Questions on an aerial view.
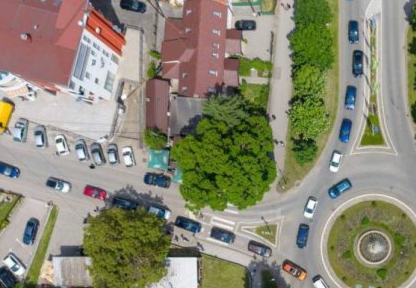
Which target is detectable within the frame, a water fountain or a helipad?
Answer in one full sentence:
The one in the frame is a water fountain.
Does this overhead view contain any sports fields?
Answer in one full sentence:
No, I can't see a single sports field in this photo.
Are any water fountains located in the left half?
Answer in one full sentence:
No, looking in the left half, there is no water fountain.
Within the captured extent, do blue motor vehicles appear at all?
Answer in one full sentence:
Yes, there's a blue motor vehicle here.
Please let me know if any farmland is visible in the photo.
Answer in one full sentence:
No, no farmland is visible.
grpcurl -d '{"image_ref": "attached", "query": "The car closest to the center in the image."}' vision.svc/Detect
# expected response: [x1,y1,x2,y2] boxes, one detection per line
[145,173,170,187]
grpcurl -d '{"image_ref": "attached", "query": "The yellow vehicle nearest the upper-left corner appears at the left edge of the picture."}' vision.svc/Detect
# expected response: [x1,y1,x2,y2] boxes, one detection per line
[0,98,15,135]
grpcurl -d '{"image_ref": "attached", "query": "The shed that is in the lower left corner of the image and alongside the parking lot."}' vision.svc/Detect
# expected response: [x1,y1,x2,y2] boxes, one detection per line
[53,256,96,287]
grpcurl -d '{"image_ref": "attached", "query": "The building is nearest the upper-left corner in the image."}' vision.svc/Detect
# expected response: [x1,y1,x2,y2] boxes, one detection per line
[0,0,130,106]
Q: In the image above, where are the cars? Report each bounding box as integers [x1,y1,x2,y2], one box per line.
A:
[147,204,171,219]
[234,18,259,31]
[12,119,28,143]
[304,195,317,218]
[145,173,170,187]
[23,218,40,243]
[329,180,352,197]
[246,240,273,256]
[46,178,71,192]
[297,222,309,248]
[329,150,342,173]
[0,263,15,277]
[55,134,70,157]
[75,139,90,162]
[347,21,358,44]
[282,260,307,278]
[33,126,49,149]
[83,186,108,199]
[122,146,136,166]
[313,275,329,288]
[90,143,106,166]
[338,120,351,143]
[112,196,139,210]
[173,216,200,232]
[352,50,363,76]
[344,84,357,110]
[211,228,235,242]
[0,163,20,177]
[105,143,120,166]
[2,253,26,272]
